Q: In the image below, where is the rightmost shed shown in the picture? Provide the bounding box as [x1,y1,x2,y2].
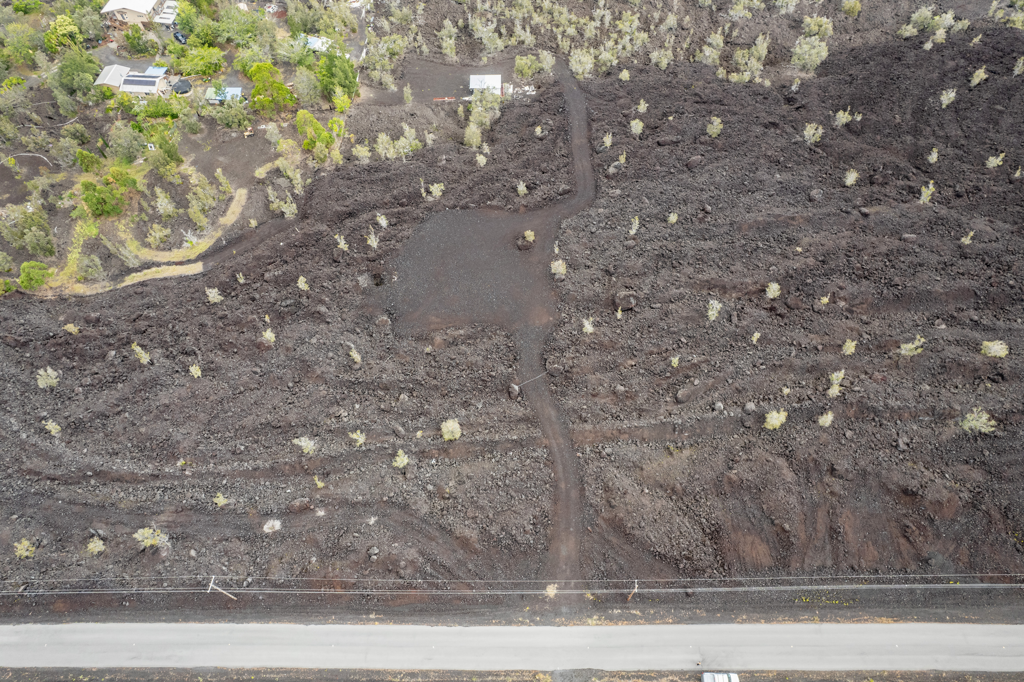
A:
[470,75,501,97]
